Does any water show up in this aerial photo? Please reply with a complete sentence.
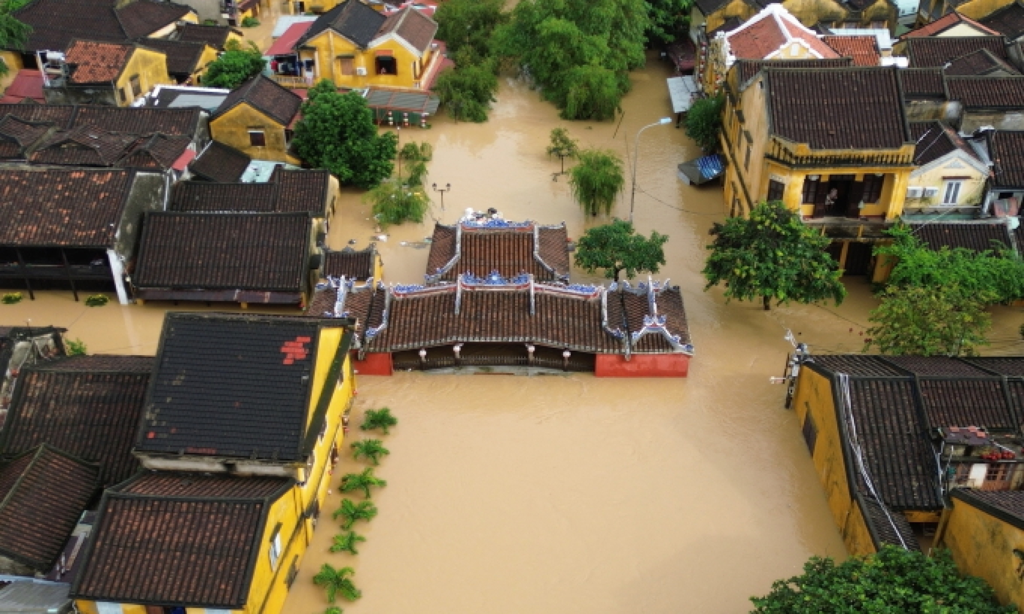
Yes, there is water in the image.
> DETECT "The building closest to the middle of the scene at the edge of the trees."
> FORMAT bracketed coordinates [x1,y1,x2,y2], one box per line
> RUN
[420,215,577,288]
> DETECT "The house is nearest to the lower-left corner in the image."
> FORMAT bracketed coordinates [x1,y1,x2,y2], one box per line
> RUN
[0,441,101,614]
